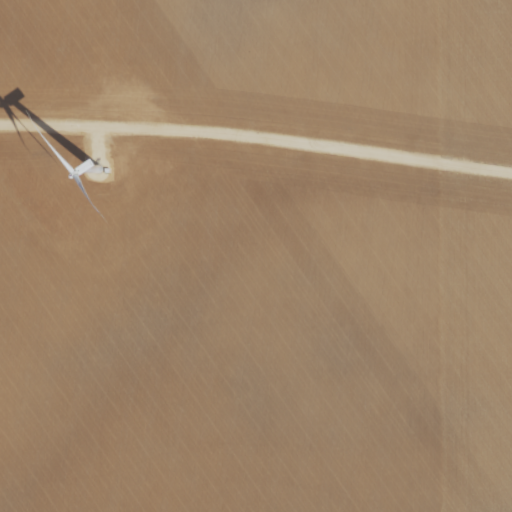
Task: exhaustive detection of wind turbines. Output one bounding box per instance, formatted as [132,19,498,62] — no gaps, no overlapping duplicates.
[33,118,106,229]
